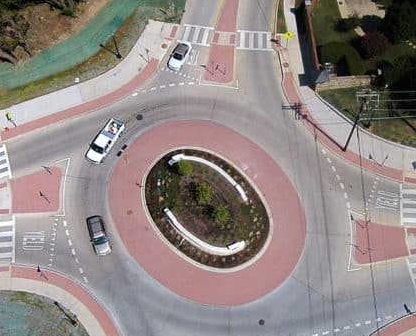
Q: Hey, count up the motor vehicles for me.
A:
three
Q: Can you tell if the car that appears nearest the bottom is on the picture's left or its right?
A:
left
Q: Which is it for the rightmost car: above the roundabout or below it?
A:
above it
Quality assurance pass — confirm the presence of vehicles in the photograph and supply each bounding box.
[86,118,127,165]
[84,213,113,257]
[165,39,193,73]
